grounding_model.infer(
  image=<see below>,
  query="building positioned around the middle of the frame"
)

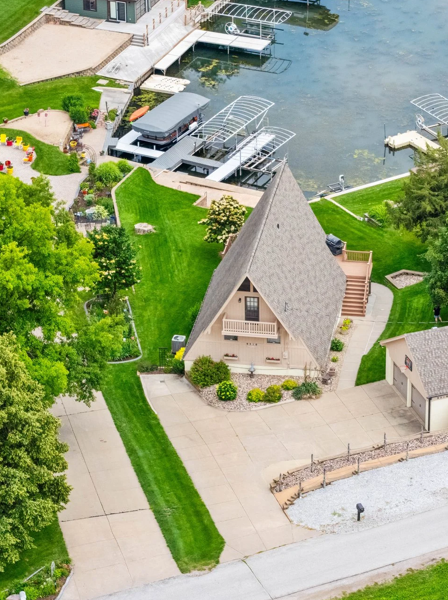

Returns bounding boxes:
[183,160,345,376]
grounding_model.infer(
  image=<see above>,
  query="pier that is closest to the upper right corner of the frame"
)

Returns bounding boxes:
[384,123,435,159]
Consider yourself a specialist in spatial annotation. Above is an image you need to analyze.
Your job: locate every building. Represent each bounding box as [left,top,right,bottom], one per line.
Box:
[64,0,164,23]
[376,322,448,431]
[183,160,345,376]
